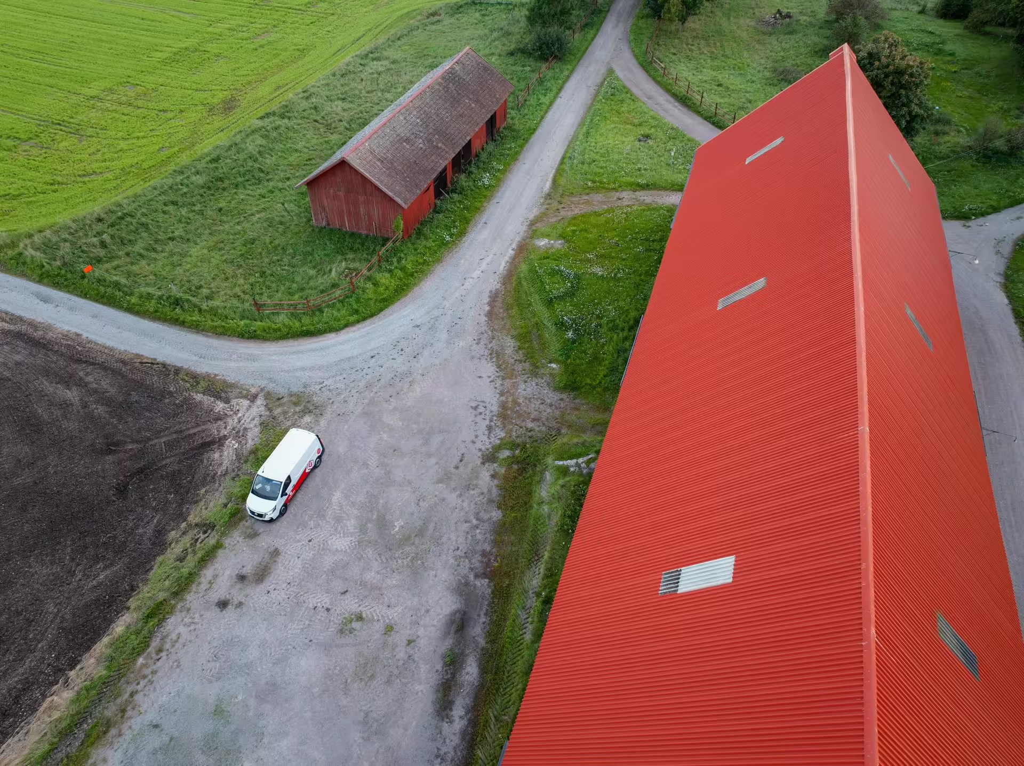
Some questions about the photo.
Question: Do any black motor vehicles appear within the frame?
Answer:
No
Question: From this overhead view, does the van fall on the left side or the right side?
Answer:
left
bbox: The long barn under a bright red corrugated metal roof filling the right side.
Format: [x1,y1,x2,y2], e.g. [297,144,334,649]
[498,40,1024,766]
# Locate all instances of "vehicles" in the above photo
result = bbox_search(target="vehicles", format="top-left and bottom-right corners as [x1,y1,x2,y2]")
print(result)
[242,426,326,526]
